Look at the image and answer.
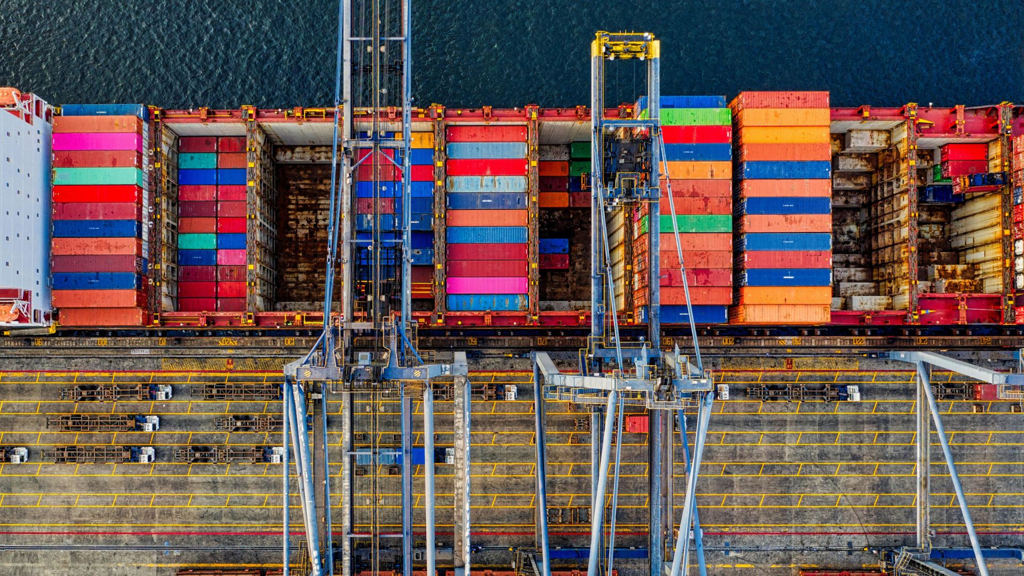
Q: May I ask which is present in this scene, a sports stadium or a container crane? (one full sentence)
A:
There is a container crane in the scene.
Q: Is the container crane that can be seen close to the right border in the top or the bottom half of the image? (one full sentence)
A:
Seen from above, the container crane that can be seen close to the right border lies in the bottom half of the view.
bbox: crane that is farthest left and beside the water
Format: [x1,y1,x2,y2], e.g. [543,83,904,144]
[285,0,488,576]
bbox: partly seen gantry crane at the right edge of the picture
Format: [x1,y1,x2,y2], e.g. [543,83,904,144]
[852,349,1024,576]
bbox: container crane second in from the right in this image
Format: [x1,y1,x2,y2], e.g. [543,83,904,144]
[504,28,718,576]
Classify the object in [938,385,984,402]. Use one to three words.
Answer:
vehicle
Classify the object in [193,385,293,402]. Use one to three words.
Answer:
vehicle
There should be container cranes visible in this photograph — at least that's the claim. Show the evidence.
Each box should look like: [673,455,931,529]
[285,0,488,576]
[852,349,1024,576]
[504,28,718,576]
